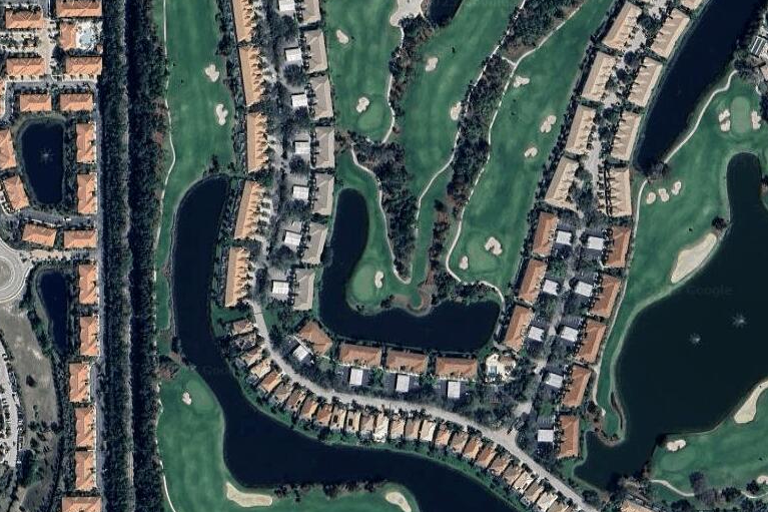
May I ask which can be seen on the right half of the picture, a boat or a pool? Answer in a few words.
pool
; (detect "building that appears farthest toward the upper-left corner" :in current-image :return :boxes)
[6,10,43,29]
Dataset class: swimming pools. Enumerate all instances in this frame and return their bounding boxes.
[76,20,103,51]
[486,355,517,380]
